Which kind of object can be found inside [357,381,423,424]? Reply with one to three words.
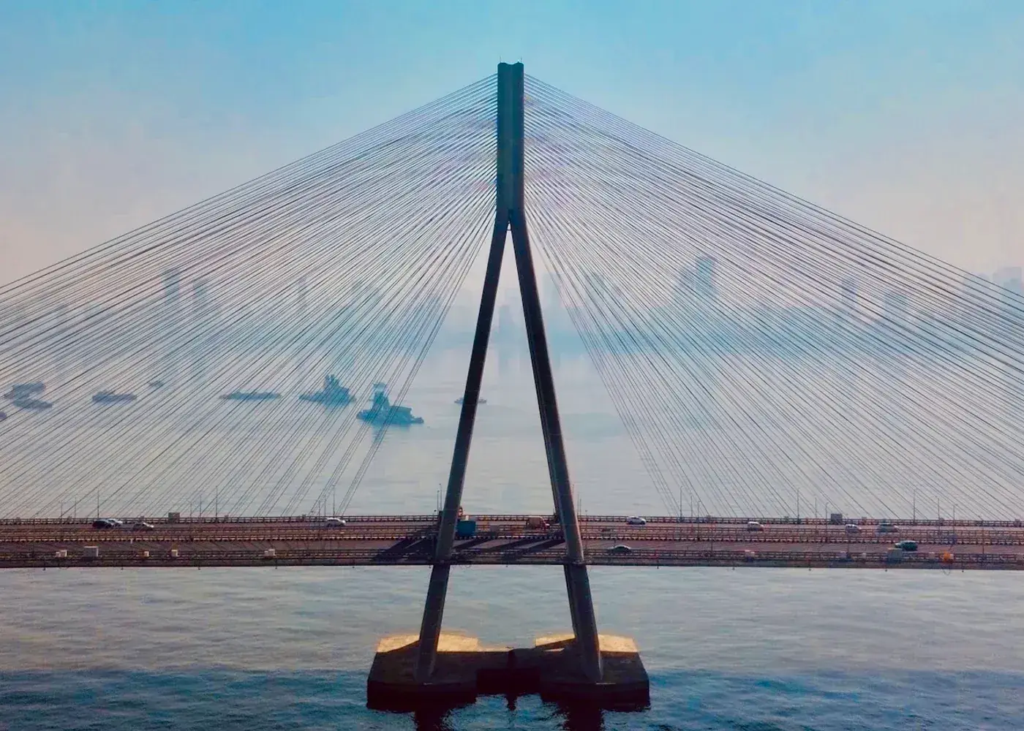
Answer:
ship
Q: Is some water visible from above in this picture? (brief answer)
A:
Yes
